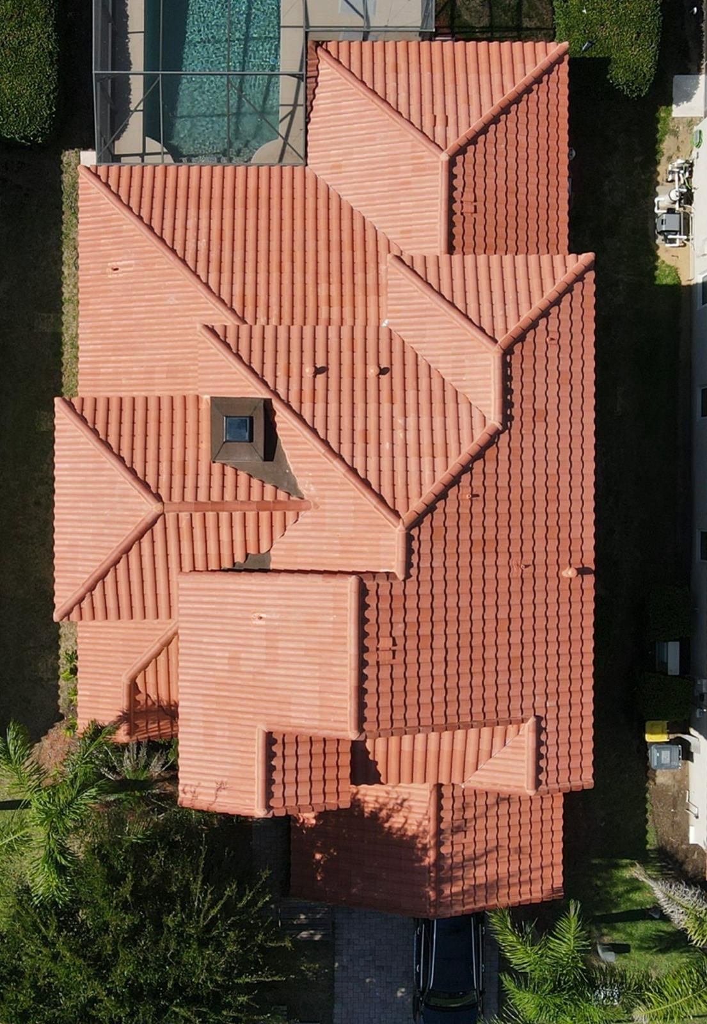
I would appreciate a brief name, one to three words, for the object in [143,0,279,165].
swimming pool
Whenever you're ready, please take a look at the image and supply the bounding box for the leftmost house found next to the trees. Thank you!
[51,39,599,923]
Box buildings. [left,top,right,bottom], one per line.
[51,39,599,923]
[688,109,707,863]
